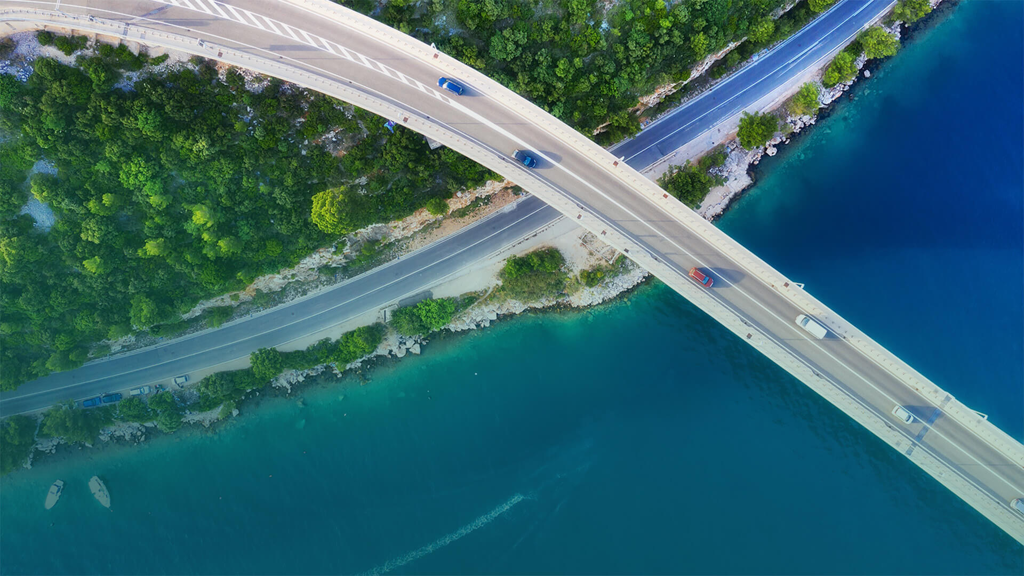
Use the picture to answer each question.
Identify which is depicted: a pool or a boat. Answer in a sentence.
The image shows a boat.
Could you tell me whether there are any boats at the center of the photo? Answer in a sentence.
No, I see no boat at the center of the photo.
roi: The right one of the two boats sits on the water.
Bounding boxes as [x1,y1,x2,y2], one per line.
[89,475,112,508]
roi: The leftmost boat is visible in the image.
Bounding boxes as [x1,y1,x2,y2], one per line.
[46,478,67,509]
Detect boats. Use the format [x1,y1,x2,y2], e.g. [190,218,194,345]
[89,475,112,508]
[46,478,67,509]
